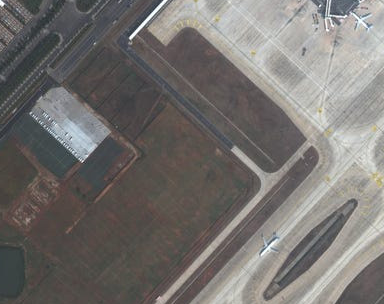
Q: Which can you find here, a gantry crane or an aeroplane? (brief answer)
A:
aeroplane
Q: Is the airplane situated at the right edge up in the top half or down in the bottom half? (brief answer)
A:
top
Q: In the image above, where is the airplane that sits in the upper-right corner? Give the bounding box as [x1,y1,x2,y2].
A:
[350,12,372,32]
